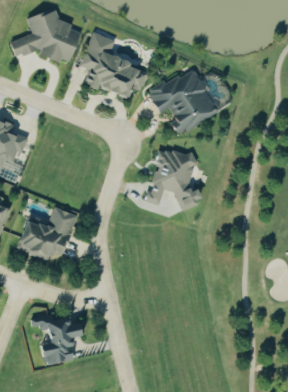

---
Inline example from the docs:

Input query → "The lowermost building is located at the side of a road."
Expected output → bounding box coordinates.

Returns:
[31,320,84,366]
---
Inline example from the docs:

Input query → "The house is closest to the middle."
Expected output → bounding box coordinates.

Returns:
[146,148,205,210]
